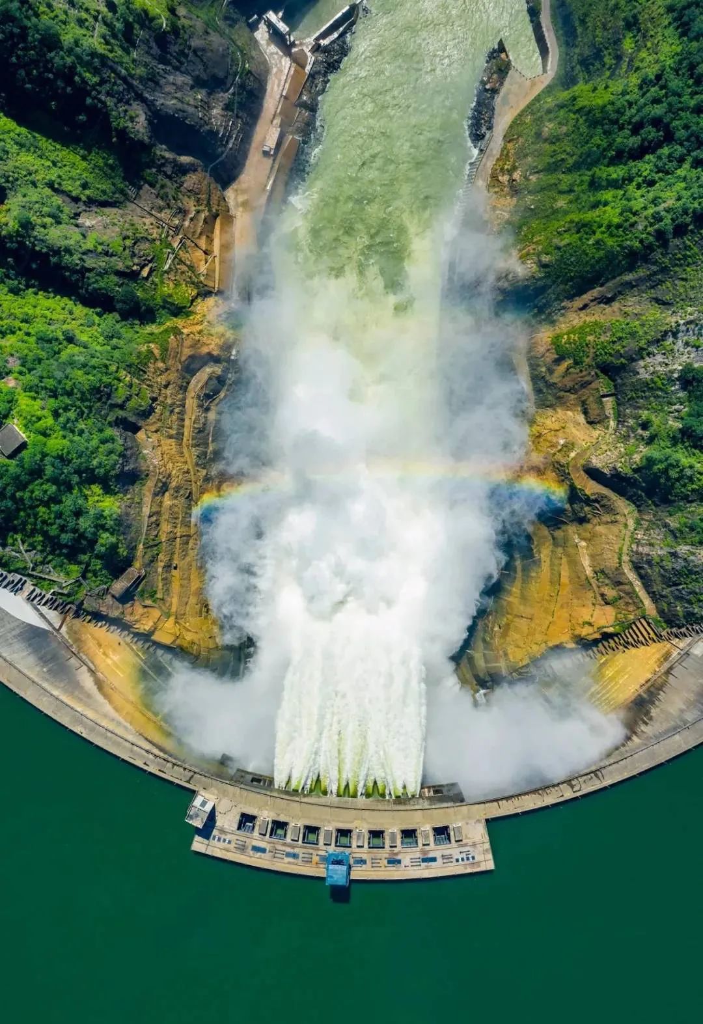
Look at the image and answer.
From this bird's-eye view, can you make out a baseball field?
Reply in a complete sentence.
No, no baseball field is visible in the scene.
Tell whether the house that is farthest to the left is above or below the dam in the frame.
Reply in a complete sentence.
From this view, the house that is farthest to the left can be seen above the dam.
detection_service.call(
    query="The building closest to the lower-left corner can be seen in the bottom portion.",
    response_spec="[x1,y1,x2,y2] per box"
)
[185,786,219,829]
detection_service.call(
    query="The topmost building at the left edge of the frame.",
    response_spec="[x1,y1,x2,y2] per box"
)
[0,423,35,458]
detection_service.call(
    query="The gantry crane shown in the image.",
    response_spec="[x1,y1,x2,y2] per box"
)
[327,850,350,889]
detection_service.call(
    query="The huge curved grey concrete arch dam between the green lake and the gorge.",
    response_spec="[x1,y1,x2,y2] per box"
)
[0,584,703,881]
